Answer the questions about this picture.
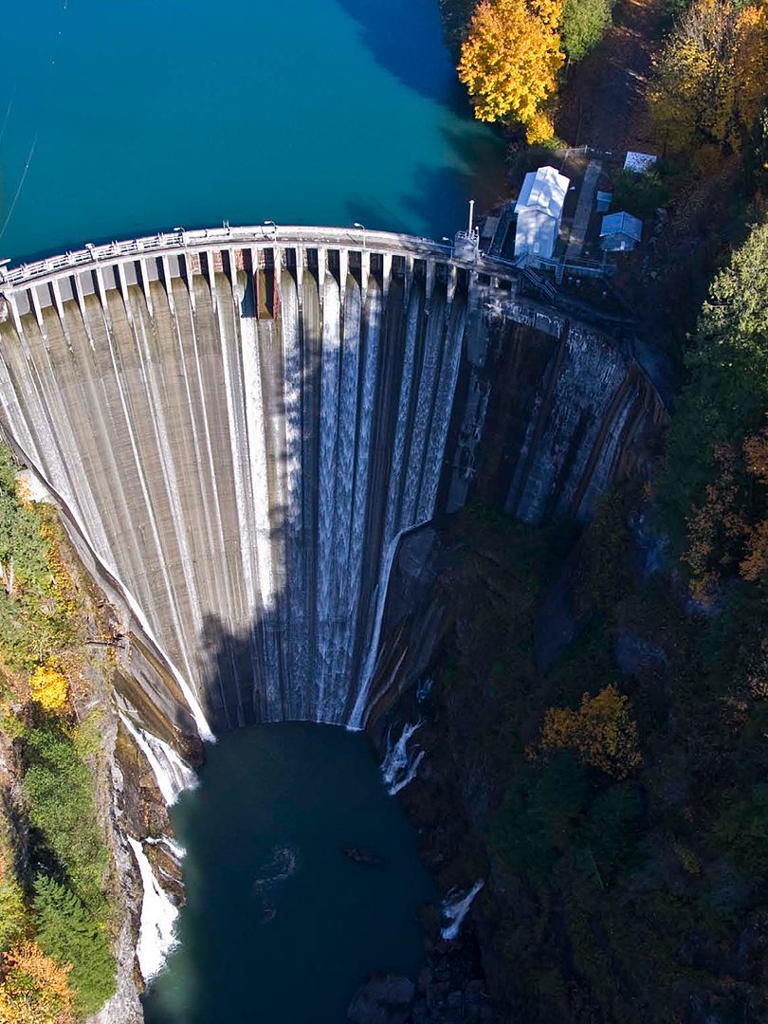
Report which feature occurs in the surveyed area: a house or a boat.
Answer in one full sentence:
There is a house in the scene.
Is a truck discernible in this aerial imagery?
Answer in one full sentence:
No, there's no truck here.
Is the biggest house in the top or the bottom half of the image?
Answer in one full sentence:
It is in the top half that the biggest house appears.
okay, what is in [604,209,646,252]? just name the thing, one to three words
shed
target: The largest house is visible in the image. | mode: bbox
[513,158,571,262]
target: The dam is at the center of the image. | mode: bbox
[0,216,692,737]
